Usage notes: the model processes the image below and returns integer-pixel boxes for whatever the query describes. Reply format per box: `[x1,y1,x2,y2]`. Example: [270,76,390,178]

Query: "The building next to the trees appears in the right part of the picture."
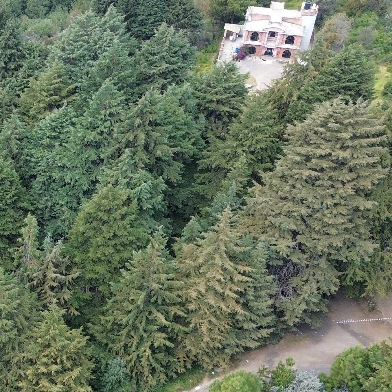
[245,3,328,63]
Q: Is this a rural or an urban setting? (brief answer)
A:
rural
